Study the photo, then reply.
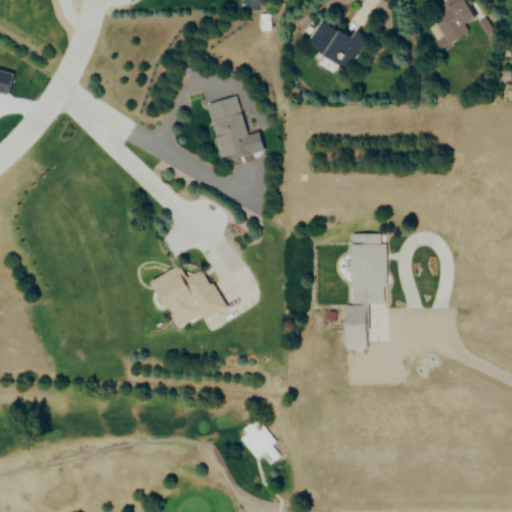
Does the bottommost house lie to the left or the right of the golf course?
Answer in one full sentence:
The bottommost house is to the right of the golf course.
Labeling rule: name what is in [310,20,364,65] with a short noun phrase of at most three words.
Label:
house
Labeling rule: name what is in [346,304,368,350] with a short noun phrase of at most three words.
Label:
building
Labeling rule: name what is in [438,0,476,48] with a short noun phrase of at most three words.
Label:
house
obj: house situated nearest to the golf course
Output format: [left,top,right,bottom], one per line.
[241,422,282,465]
